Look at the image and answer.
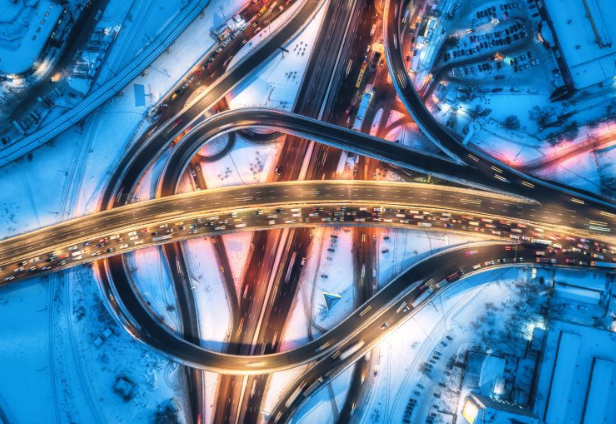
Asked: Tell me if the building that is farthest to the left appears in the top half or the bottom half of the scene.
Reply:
top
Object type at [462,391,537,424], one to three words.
building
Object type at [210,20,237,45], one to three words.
building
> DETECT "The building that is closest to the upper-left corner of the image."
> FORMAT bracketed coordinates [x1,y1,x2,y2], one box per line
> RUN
[0,0,76,77]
